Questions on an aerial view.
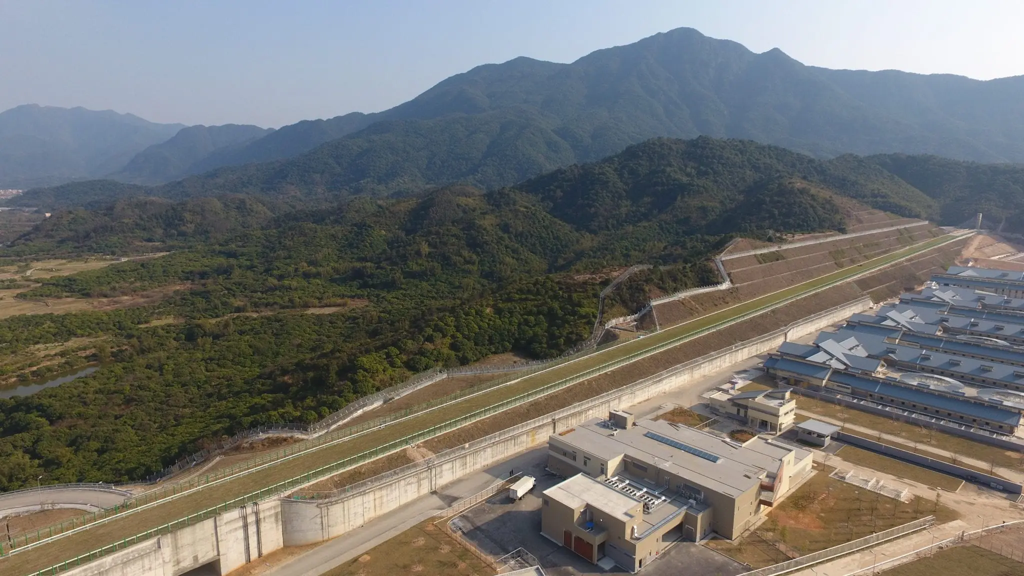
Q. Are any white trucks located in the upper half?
No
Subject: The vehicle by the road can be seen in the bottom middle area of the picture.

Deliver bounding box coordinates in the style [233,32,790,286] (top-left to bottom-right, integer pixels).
[509,472,542,497]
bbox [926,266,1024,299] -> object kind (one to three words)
building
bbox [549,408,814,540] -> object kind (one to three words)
building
